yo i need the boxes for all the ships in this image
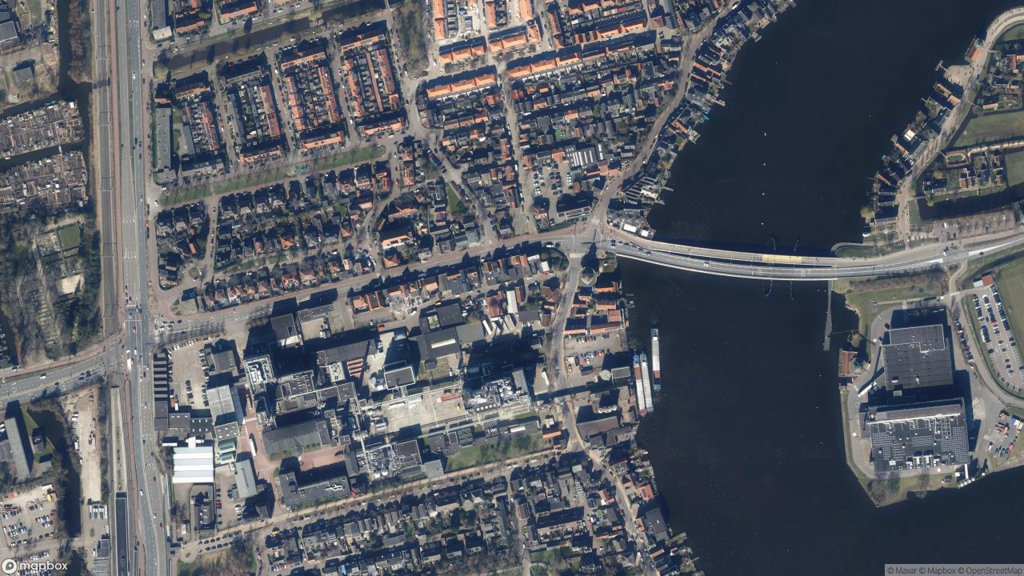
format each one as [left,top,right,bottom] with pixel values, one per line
[640,352,653,413]
[633,353,646,417]
[651,328,661,391]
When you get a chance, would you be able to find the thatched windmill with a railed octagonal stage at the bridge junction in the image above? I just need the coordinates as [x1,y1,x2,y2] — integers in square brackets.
[578,268,597,286]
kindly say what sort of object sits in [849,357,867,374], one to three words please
windmill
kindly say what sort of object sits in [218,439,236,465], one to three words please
shed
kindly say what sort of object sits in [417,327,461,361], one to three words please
building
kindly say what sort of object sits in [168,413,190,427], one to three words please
building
